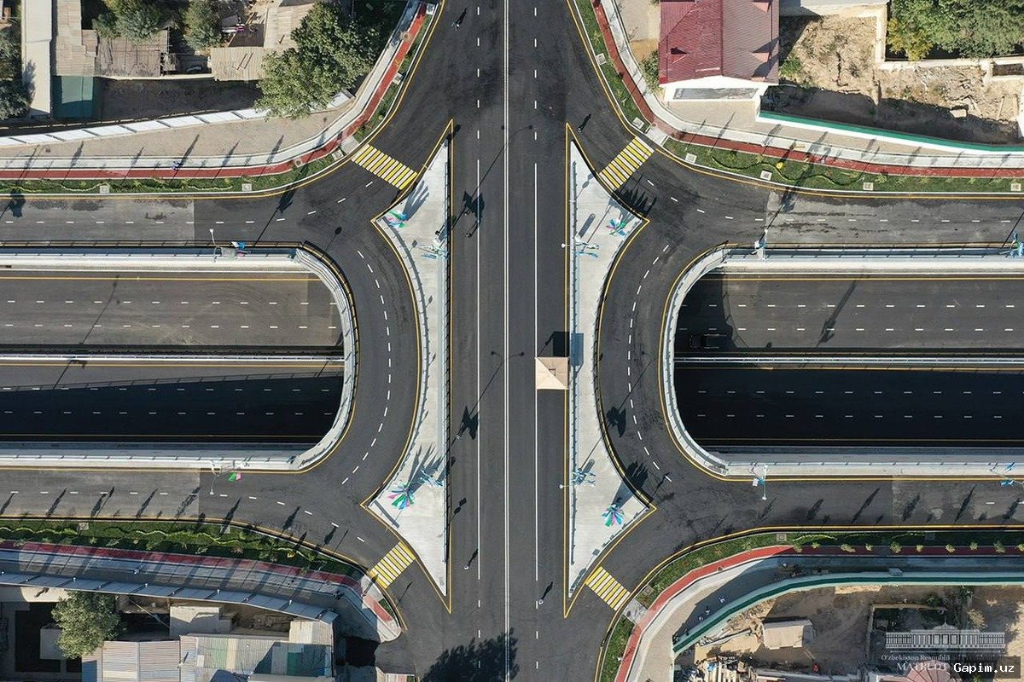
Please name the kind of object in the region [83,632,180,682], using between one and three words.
building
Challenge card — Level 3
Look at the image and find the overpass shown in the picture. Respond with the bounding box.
[300,246,726,475]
